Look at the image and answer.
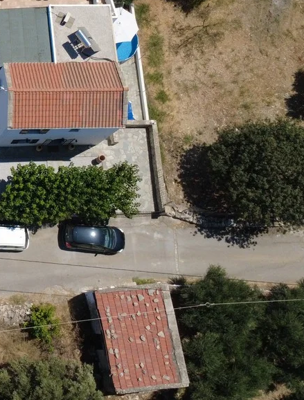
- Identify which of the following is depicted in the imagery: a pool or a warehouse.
pool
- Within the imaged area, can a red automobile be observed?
No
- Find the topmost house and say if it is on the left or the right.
left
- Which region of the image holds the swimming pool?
top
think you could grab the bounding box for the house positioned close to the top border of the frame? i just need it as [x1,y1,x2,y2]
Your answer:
[0,0,132,152]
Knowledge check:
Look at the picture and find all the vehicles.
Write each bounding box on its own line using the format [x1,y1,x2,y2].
[57,223,124,258]
[0,225,30,255]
